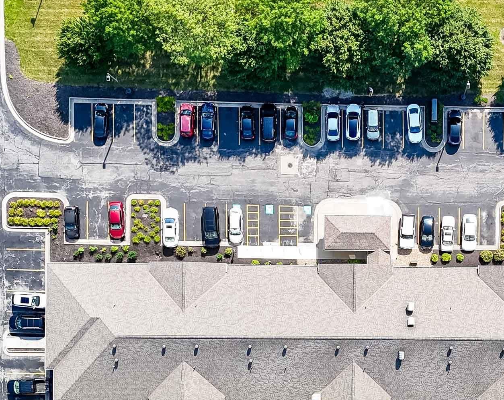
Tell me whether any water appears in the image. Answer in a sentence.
No, the scene doesn't show any water.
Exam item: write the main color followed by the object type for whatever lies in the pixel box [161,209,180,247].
white car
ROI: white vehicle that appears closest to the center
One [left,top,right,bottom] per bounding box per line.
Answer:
[227,206,244,244]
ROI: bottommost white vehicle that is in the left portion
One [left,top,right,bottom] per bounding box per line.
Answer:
[12,291,46,309]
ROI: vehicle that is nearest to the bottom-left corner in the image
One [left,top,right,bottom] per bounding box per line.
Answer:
[7,379,51,396]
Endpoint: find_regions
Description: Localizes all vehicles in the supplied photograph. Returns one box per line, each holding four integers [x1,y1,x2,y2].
[179,103,197,139]
[460,214,478,250]
[7,379,51,396]
[440,217,455,251]
[365,109,382,140]
[227,206,244,244]
[161,209,180,247]
[325,105,341,142]
[201,206,220,247]
[402,212,415,250]
[406,105,423,143]
[239,105,256,142]
[447,110,464,145]
[11,314,46,330]
[283,106,299,143]
[110,202,126,240]
[419,216,435,250]
[12,291,46,309]
[345,105,362,142]
[62,203,81,241]
[92,103,111,138]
